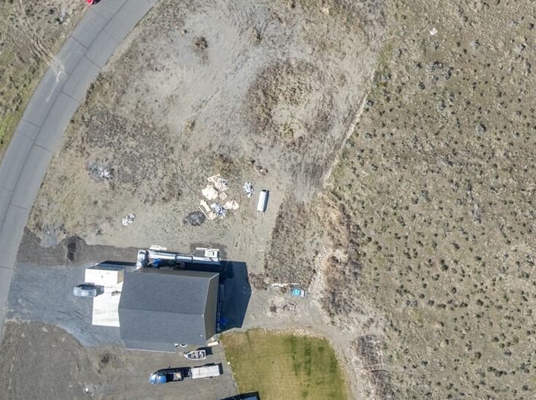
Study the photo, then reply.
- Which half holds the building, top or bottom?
bottom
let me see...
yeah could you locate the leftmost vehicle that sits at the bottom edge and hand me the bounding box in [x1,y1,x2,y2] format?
[150,370,186,387]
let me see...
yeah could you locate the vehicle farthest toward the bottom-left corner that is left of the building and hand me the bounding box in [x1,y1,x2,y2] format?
[73,284,98,298]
